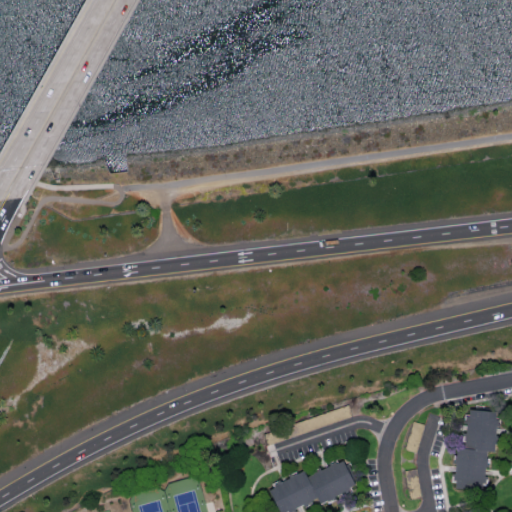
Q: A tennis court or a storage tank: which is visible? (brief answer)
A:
tennis court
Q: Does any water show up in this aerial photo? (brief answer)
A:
Yes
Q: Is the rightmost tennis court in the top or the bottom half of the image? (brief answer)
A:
bottom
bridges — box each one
[0,0,142,204]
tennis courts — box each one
[166,479,206,512]
[131,490,169,512]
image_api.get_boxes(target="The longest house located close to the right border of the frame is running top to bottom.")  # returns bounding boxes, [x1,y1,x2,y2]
[456,409,496,489]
